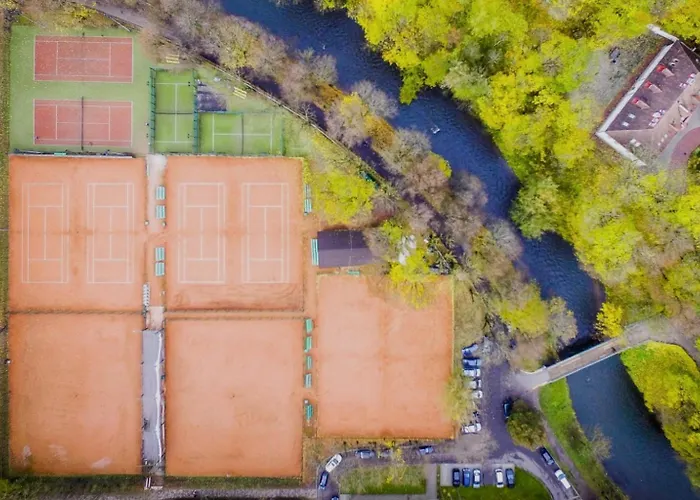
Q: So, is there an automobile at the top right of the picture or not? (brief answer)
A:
No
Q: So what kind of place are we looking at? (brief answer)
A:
sports ground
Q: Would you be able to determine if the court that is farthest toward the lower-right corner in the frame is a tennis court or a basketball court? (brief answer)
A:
tennis court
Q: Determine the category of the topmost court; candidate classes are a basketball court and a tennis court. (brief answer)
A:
tennis court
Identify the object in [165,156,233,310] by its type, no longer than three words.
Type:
tennis court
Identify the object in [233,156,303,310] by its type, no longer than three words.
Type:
tennis court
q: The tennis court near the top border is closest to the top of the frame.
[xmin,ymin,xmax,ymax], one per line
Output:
[10,25,146,90]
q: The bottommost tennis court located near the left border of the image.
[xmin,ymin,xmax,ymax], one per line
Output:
[9,315,142,475]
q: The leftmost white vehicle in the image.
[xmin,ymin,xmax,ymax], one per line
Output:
[323,453,343,476]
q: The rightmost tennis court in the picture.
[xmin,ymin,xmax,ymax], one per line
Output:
[318,276,454,438]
